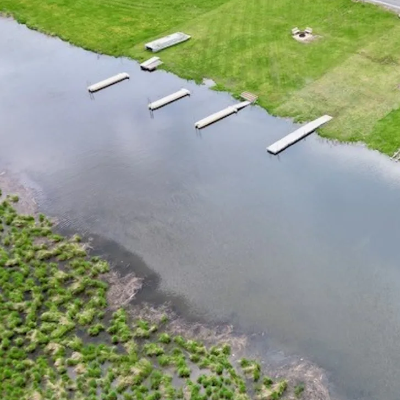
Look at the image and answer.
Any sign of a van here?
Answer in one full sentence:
No, this view has no van in it.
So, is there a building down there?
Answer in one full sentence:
No, the frame has no building in it.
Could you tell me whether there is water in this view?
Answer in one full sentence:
Yes, some water is visible.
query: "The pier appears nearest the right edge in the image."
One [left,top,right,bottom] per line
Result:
[266,116,333,157]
